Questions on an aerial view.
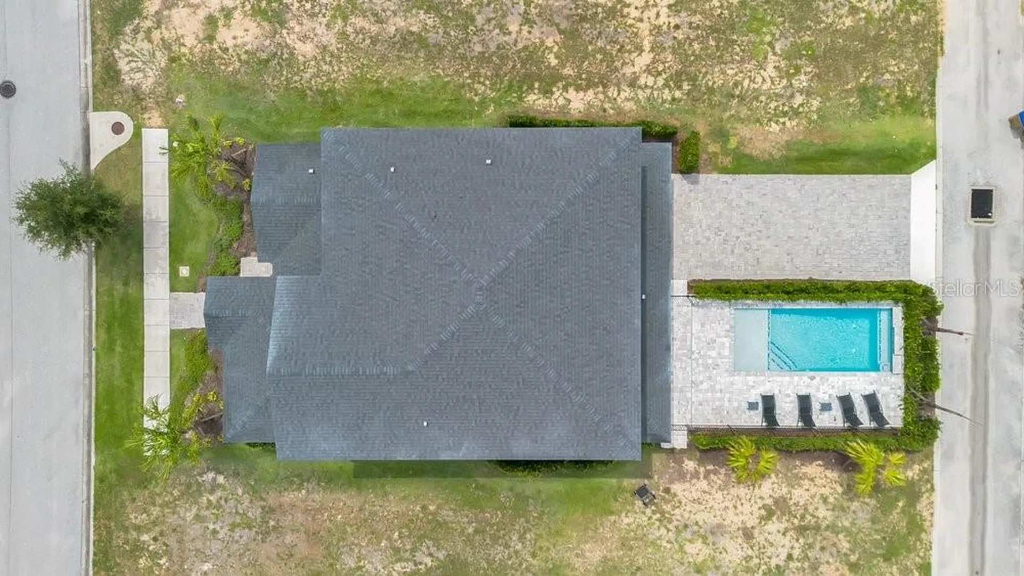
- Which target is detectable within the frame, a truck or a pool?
pool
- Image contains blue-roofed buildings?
No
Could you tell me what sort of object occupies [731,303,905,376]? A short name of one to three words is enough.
swimming pool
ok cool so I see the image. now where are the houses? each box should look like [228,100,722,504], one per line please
[202,127,673,461]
